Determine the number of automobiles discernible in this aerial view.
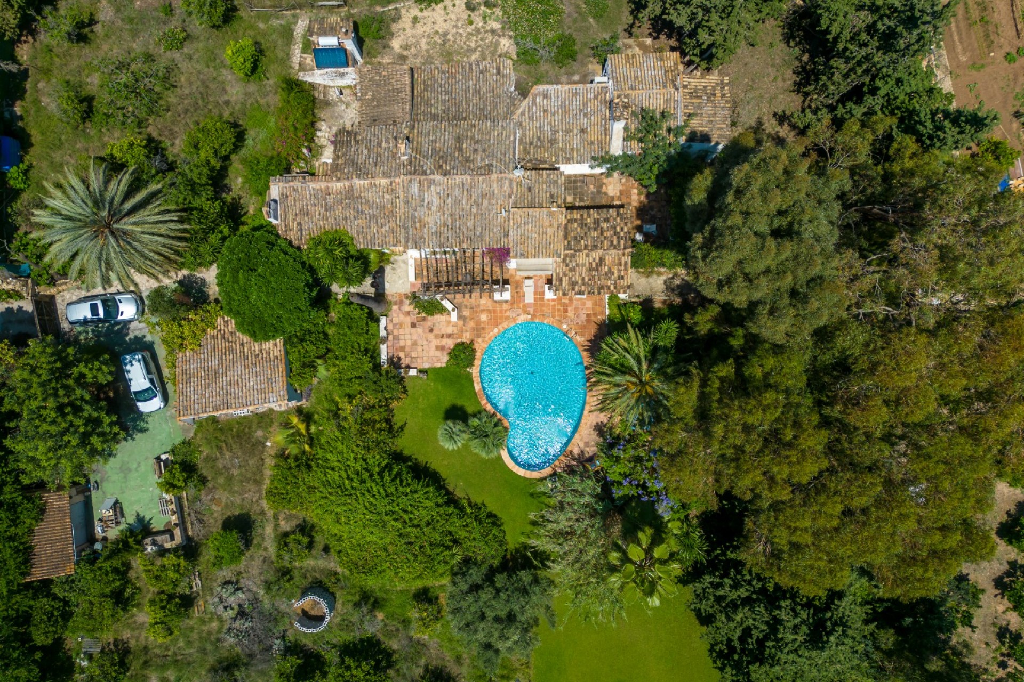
two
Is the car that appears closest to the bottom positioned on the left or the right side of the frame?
left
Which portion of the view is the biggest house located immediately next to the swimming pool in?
top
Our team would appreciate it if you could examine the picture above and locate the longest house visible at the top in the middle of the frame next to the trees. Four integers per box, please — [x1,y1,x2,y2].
[264,49,732,296]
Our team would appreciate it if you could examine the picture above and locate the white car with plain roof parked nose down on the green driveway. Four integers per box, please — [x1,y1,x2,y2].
[120,349,172,414]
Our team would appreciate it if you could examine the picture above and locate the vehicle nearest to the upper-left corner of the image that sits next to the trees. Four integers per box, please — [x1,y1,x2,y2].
[63,291,149,326]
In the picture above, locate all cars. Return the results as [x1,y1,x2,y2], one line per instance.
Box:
[120,349,172,414]
[63,291,149,326]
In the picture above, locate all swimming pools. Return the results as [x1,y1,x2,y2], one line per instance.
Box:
[480,321,587,470]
